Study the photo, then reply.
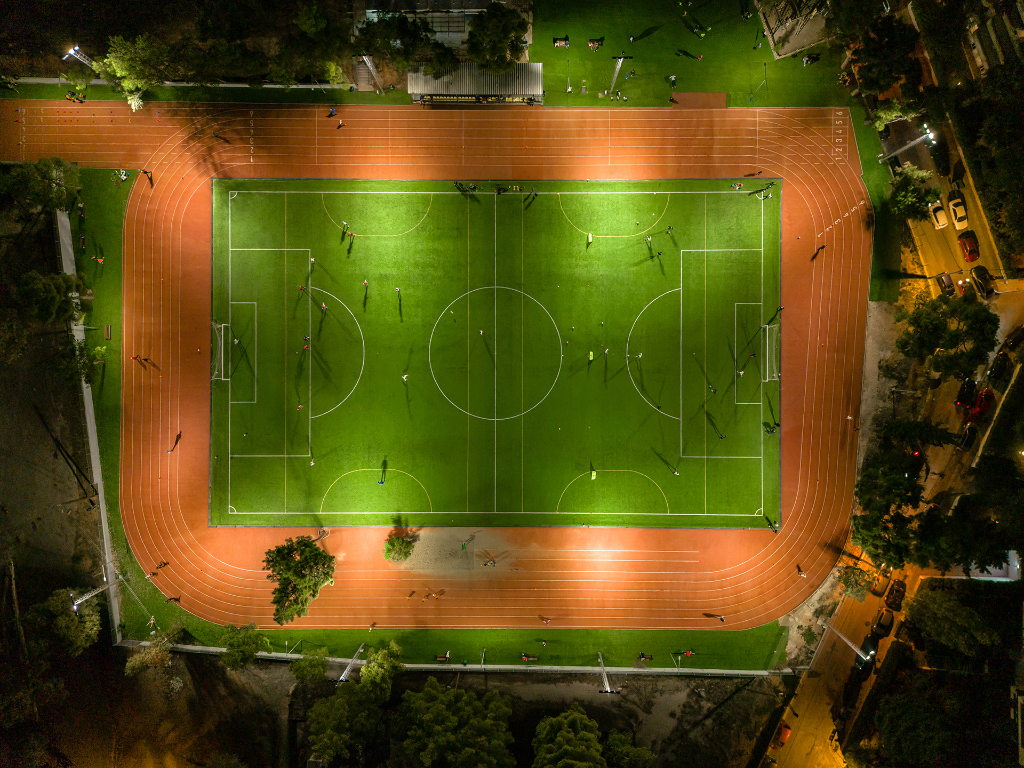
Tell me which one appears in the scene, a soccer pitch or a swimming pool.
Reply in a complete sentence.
It is a soccer pitch that can be seen here.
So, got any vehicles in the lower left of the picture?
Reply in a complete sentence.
No, there is no vehicle in the lower left of the picture.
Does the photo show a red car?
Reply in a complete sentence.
Yes, there's a red car down there.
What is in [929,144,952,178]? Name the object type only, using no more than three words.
car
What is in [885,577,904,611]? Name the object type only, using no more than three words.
car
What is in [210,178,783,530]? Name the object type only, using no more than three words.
soccer field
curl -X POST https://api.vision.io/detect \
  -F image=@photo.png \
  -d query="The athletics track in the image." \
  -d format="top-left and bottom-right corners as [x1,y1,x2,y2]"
[0,92,875,631]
